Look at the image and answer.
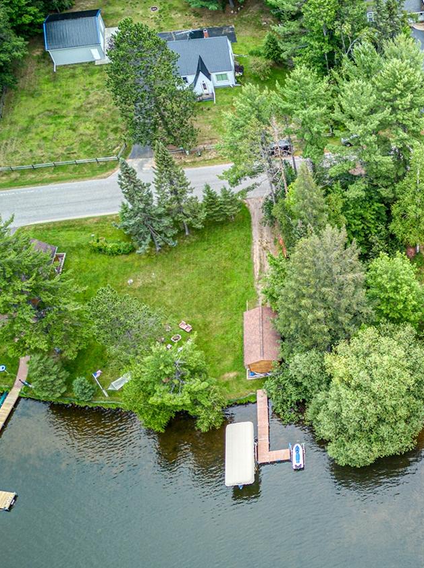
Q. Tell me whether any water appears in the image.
Yes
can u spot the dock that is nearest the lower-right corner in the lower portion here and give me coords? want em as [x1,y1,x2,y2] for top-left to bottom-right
[256,387,291,467]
